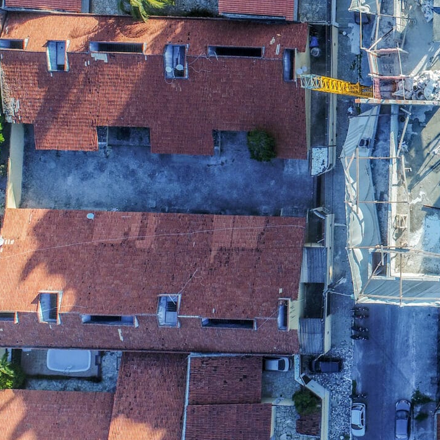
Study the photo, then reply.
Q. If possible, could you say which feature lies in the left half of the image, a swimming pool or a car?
swimming pool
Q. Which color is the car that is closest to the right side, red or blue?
blue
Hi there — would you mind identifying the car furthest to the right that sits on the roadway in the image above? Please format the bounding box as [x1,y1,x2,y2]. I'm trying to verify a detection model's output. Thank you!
[392,398,412,440]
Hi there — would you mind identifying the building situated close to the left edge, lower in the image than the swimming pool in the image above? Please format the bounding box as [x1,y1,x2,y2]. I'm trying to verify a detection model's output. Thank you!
[0,383,115,440]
